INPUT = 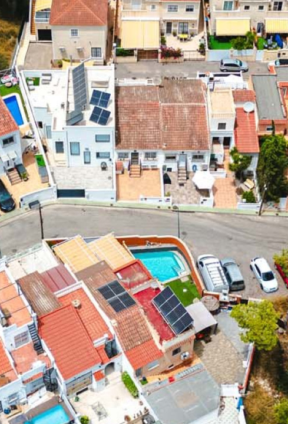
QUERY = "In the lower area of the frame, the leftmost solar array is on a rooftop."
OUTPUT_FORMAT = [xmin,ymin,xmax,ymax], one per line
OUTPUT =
[97,280,137,313]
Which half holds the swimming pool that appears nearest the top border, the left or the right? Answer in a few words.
left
